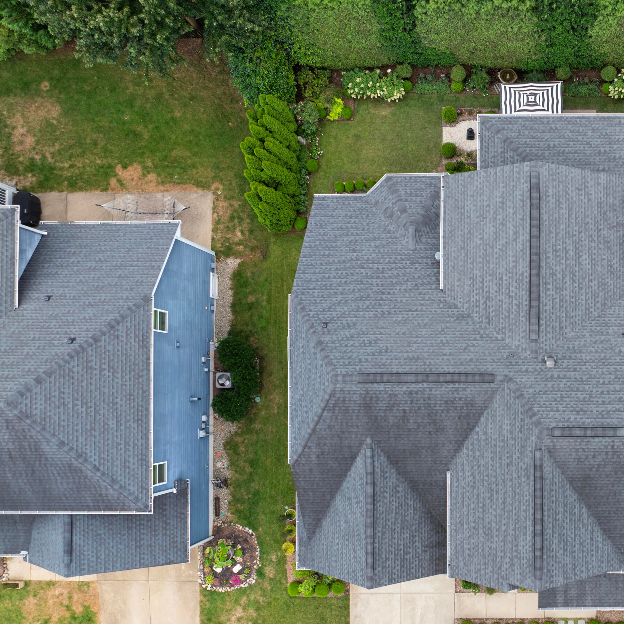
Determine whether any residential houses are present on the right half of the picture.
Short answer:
Yes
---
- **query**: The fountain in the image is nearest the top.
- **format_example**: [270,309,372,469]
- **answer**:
[501,67,517,83]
